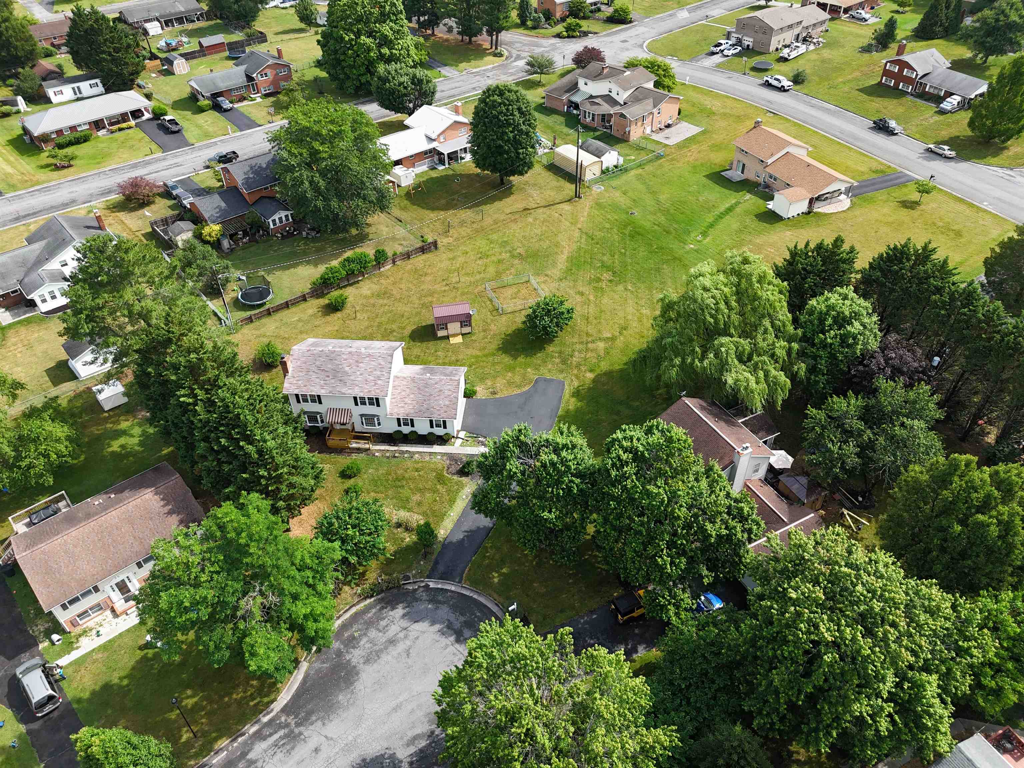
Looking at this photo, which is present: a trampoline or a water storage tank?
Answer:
trampoline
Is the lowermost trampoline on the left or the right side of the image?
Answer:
left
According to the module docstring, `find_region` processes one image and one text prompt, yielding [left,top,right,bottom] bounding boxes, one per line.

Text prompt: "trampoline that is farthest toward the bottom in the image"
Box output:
[233,274,272,308]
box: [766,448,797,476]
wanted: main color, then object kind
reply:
white umbrella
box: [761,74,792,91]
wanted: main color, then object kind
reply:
white vehicle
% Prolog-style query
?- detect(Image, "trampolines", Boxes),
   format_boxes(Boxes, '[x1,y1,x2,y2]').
[225,40,247,57]
[233,274,272,308]
[755,60,775,69]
